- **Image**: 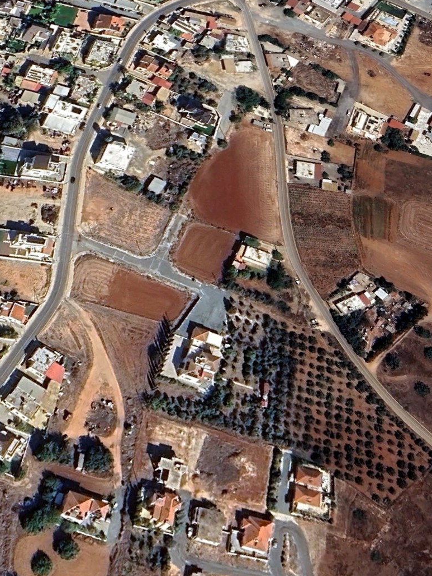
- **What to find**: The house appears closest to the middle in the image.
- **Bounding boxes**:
[233,244,271,270]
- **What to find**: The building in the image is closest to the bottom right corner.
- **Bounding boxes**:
[291,464,322,516]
